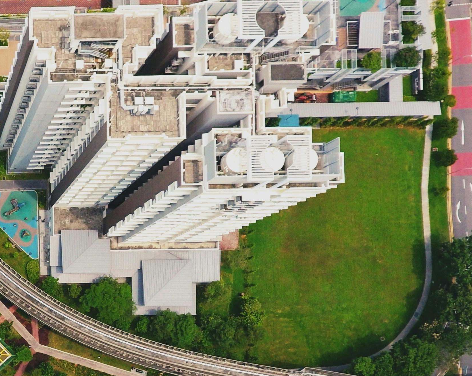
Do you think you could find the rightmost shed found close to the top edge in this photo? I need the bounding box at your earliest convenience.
[352,12,385,52]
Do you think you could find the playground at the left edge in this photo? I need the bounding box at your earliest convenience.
[0,189,39,258]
